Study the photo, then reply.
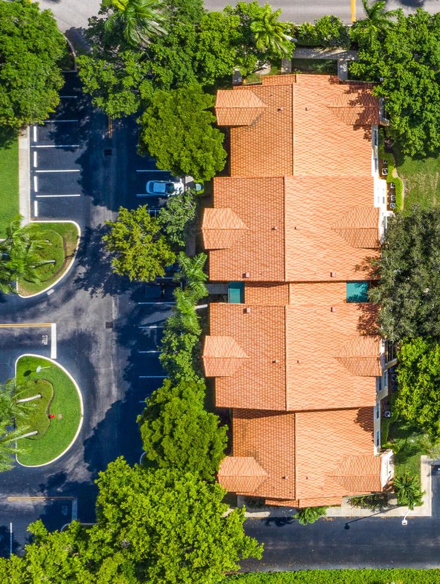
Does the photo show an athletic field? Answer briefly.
No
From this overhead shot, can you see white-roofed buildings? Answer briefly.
No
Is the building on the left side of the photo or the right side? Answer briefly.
right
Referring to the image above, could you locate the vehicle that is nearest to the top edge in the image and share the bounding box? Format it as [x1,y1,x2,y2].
[146,179,185,197]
